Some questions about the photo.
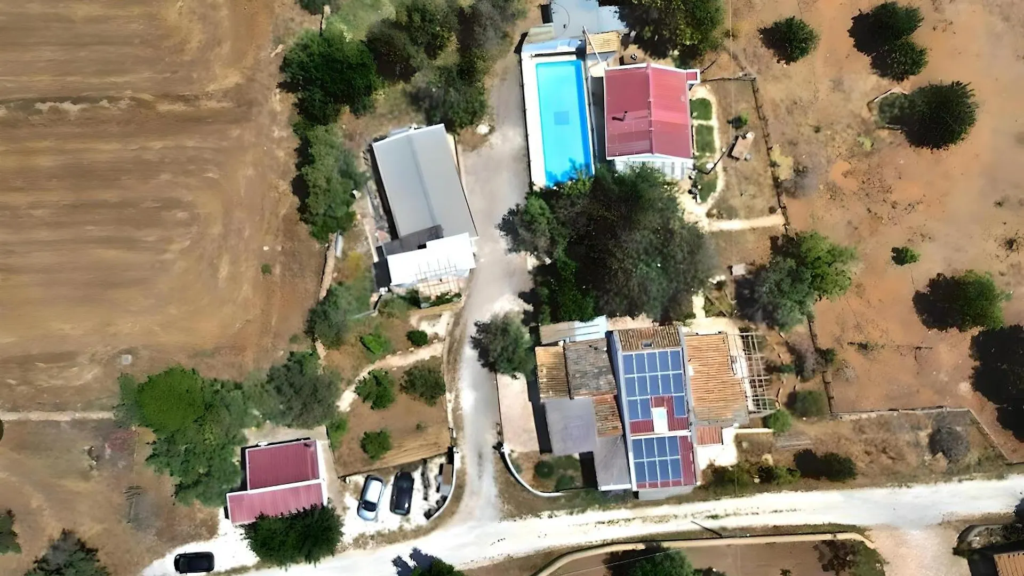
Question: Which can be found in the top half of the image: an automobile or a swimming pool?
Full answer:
Visible in the top half of the image is a swimming pool.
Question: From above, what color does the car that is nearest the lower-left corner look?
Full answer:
In this view, the car that is nearest the lower-left corner is black.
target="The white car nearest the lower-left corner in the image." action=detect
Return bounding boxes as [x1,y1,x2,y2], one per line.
[356,476,383,523]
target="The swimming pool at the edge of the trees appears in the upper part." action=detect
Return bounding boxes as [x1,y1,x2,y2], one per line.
[522,52,596,189]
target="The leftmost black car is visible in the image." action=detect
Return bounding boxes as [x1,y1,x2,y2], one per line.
[171,553,214,576]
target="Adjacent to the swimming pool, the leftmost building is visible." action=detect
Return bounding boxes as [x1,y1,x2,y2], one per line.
[372,124,480,286]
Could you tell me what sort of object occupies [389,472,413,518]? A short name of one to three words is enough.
car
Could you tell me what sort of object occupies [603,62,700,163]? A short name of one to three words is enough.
house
